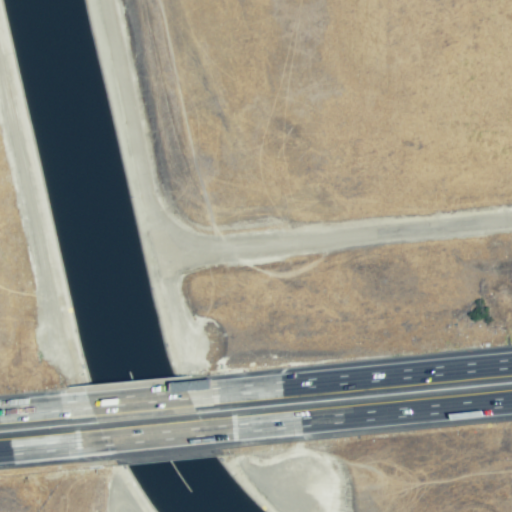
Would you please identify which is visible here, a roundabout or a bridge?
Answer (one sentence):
Looking from above, you can make out a bridge.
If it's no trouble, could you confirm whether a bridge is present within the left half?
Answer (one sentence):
Yes, a bridge is visible within the left half.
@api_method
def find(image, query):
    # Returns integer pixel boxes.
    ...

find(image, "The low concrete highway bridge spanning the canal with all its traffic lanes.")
[68,372,235,492]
